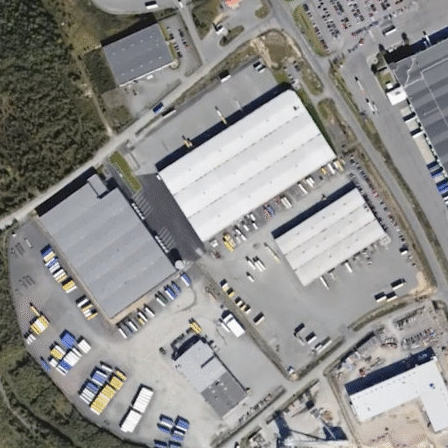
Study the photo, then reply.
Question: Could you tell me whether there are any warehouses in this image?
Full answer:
Yes, there's a warehouse here.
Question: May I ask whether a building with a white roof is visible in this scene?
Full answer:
Yes, I can see a building with a white roof in this picture.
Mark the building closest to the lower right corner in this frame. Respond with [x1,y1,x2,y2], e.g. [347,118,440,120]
[350,357,448,431]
